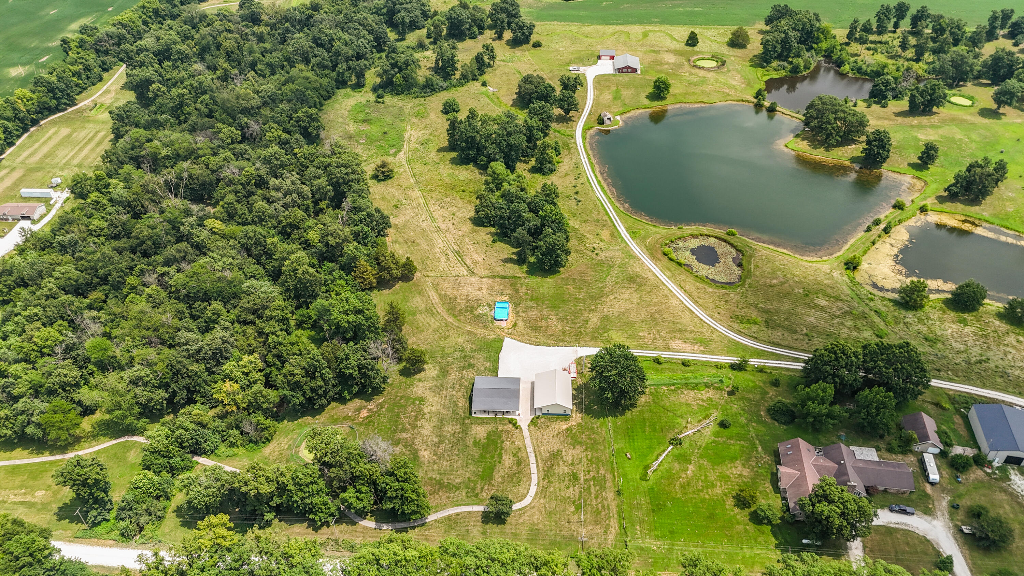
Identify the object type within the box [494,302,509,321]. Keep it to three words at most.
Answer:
swimming pool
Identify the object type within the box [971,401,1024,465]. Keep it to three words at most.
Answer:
barn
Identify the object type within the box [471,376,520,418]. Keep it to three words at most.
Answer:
house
